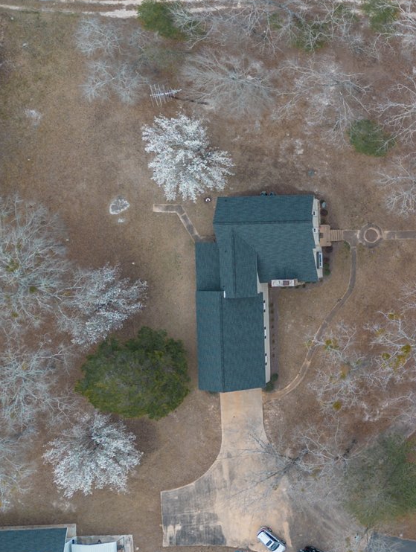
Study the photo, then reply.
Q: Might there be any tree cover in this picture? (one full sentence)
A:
Yes, tree cover shows up in the scene.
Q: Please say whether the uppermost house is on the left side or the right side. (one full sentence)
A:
You can find the uppermost house on the right side of the picture.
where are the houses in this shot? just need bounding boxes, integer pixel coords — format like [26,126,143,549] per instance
[196,195,349,393]
[0,526,73,552]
